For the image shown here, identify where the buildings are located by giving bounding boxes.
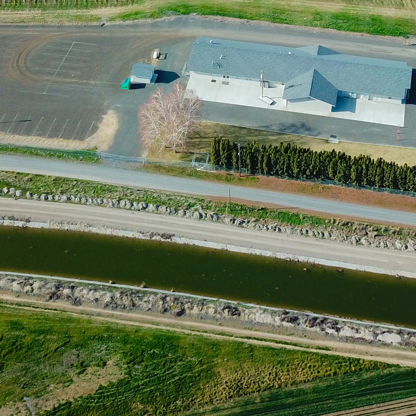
[129,61,161,87]
[188,37,416,114]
